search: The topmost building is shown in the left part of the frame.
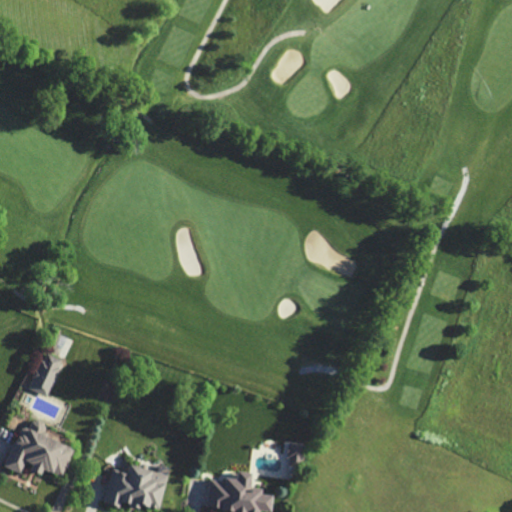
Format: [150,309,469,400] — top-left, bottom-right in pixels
[26,359,66,396]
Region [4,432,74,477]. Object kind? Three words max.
house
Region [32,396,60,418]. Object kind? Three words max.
swimming pool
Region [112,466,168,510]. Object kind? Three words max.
house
